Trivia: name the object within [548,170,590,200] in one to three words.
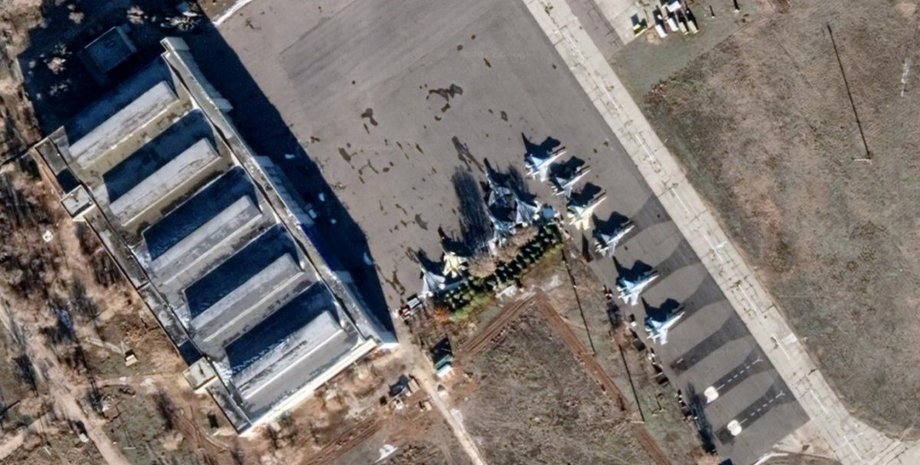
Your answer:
airplane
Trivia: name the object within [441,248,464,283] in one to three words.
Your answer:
airplane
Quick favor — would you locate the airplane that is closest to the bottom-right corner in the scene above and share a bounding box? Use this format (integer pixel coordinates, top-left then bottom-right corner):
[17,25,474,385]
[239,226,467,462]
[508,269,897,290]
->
[641,313,683,347]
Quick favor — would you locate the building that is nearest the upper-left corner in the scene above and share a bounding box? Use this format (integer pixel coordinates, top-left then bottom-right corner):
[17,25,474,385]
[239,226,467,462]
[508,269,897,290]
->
[84,27,139,73]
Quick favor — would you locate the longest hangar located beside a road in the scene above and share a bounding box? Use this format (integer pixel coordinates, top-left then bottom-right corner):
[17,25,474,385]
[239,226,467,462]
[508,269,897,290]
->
[35,38,396,433]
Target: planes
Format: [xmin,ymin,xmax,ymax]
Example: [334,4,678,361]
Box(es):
[485,170,515,212]
[565,197,606,232]
[441,248,464,283]
[507,182,540,227]
[592,226,633,259]
[615,275,658,305]
[548,170,590,200]
[524,152,565,183]
[411,255,444,298]
[641,313,683,347]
